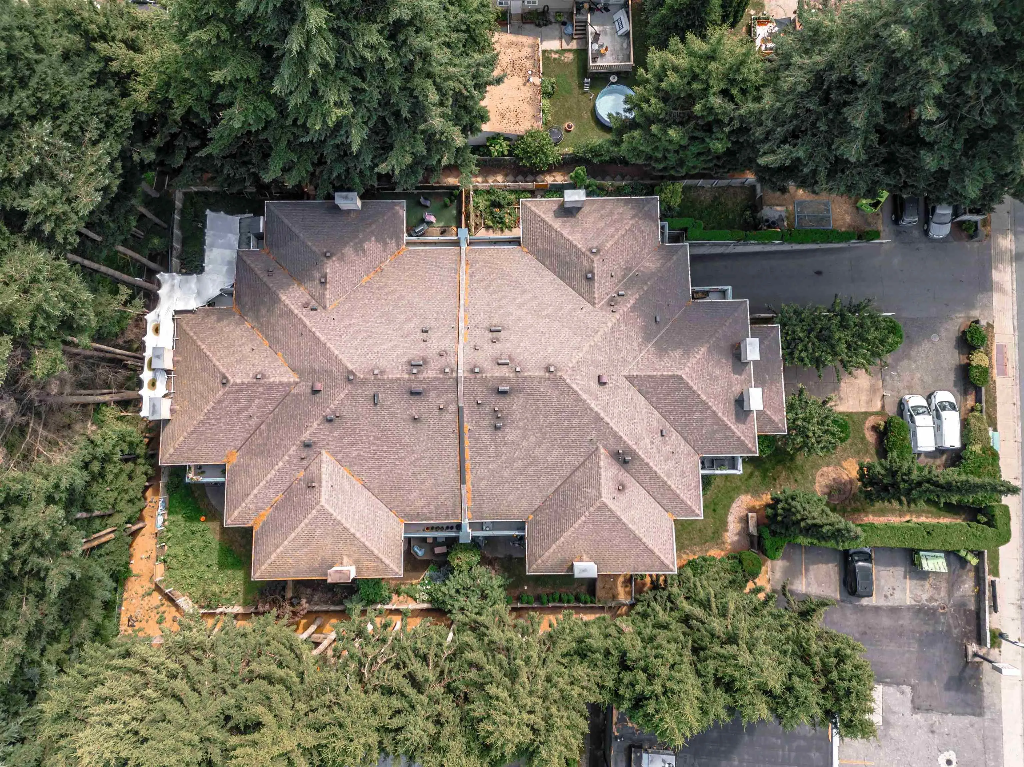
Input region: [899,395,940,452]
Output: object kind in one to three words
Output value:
van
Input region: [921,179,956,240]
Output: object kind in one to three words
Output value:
car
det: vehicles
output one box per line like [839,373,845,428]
[890,168,923,227]
[841,546,873,597]
[927,391,962,449]
[899,395,940,452]
[921,179,956,240]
